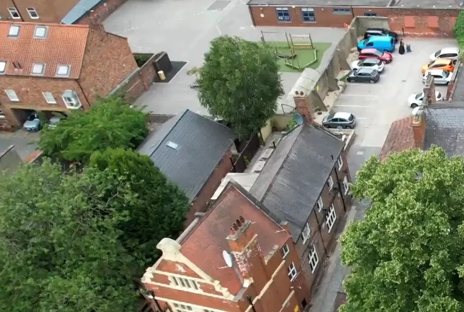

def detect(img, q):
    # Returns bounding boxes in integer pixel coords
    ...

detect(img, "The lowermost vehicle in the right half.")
[321,107,361,129]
